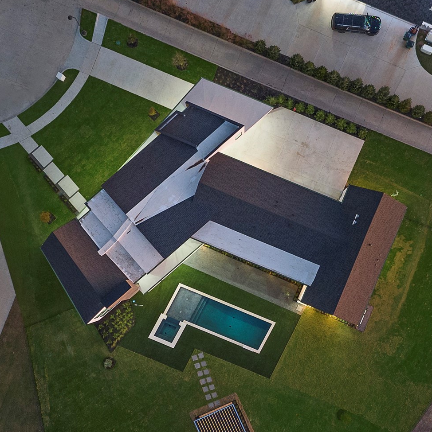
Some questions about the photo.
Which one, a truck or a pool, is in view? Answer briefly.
pool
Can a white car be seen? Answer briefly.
No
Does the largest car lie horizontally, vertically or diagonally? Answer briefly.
horizontally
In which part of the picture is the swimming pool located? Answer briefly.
bottom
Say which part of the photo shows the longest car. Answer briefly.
top right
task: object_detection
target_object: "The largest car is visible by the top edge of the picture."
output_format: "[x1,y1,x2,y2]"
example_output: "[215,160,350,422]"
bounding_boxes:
[331,11,382,37]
